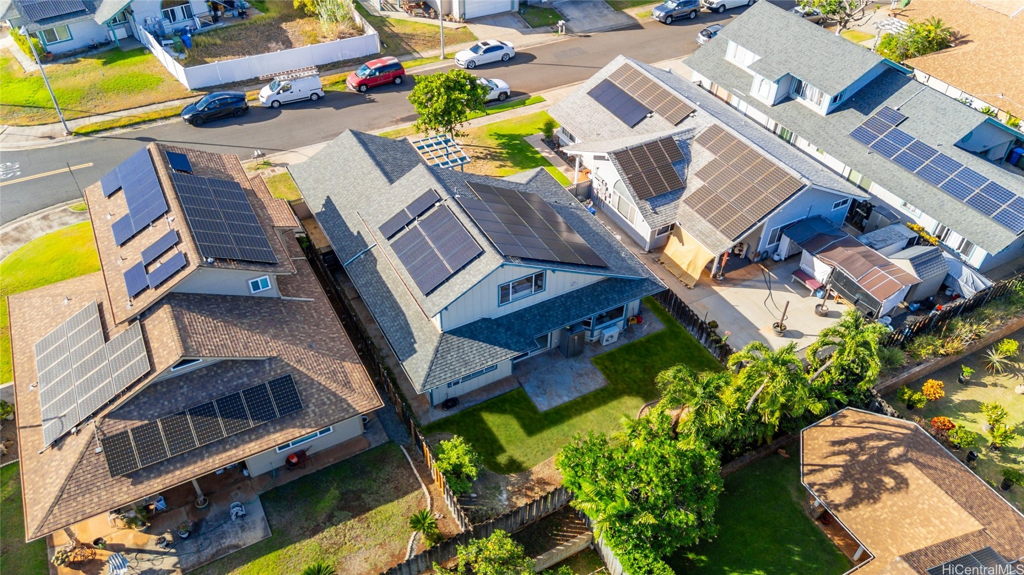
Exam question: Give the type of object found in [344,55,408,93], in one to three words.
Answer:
car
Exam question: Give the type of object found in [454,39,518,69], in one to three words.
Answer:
car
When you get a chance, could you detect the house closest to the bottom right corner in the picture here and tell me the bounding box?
[797,404,1024,575]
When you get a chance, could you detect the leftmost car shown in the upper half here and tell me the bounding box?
[179,90,251,128]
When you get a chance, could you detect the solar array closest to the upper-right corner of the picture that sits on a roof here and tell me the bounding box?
[849,107,1024,227]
